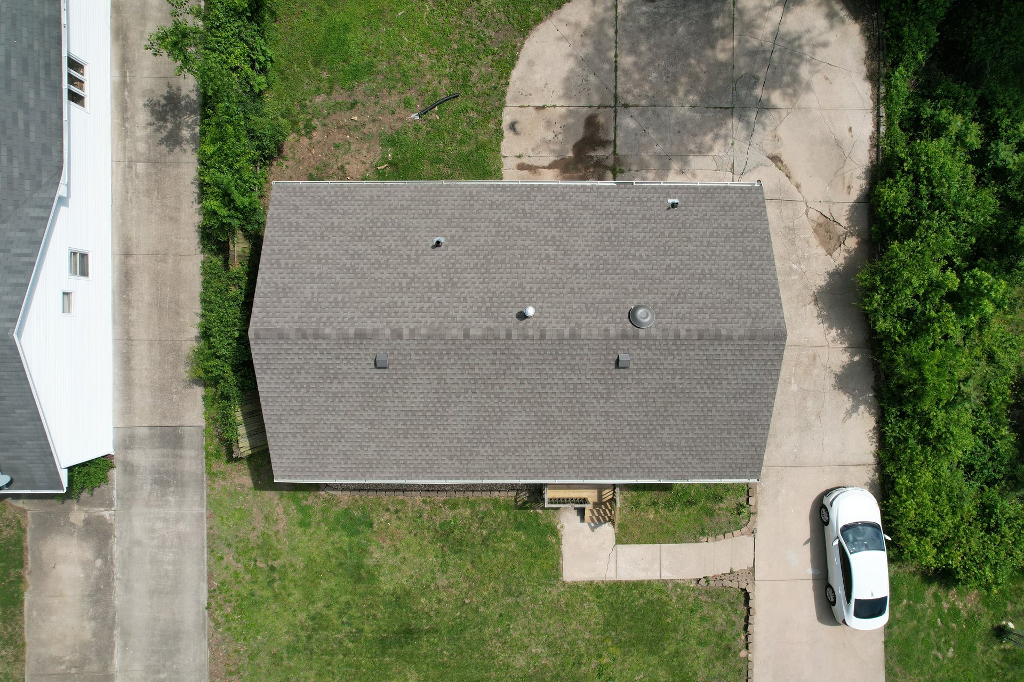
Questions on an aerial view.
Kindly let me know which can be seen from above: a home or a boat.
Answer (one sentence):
The image shows a home.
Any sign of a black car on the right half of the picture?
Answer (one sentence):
No, looking on the right half of the picture, there is no black car.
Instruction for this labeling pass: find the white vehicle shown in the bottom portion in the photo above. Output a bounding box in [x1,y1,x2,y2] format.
[823,487,897,634]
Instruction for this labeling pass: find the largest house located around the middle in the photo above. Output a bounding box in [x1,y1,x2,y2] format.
[247,178,788,484]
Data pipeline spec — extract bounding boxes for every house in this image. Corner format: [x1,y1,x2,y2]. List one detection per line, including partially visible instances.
[0,0,114,497]
[247,178,788,484]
